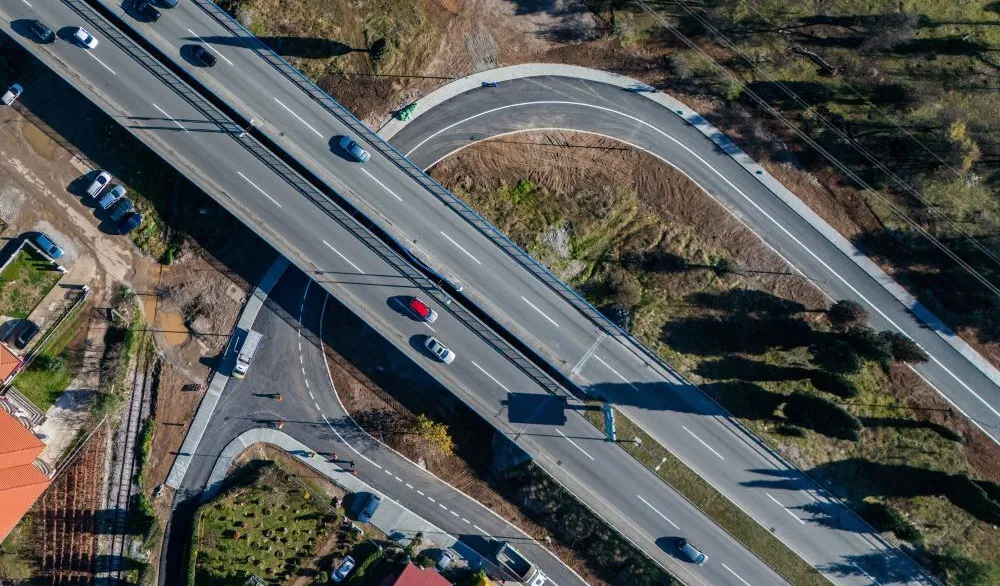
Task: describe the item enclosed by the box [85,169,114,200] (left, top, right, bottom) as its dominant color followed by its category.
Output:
white car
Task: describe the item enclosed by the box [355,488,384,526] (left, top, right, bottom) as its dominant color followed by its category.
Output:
blue car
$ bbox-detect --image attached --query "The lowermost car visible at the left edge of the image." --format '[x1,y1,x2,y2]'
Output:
[14,318,44,348]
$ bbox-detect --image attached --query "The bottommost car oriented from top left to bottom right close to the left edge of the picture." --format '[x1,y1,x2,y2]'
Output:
[32,231,67,261]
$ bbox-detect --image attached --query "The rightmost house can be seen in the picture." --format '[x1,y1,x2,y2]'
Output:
[389,552,455,586]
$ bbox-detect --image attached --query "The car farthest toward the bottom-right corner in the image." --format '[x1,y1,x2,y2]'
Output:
[675,536,709,565]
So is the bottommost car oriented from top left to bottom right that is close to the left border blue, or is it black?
blue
